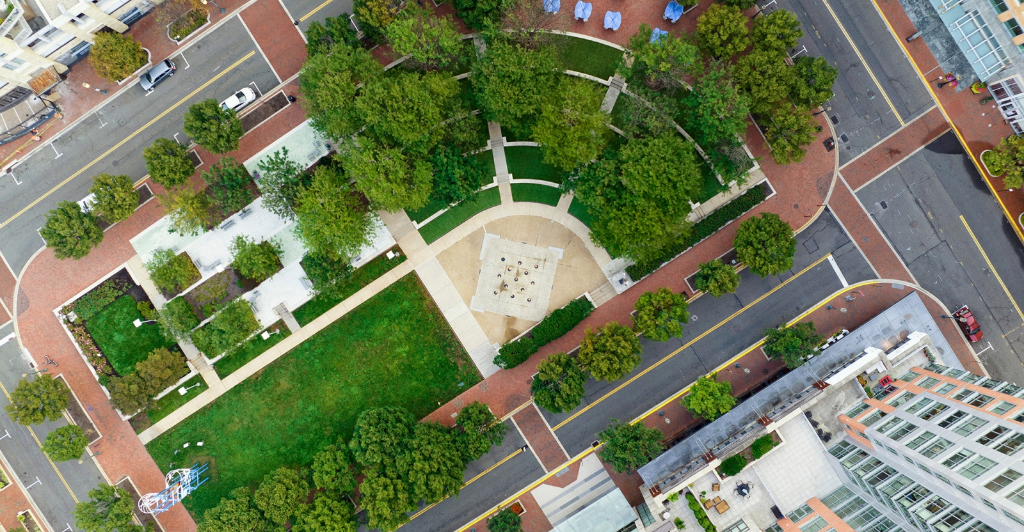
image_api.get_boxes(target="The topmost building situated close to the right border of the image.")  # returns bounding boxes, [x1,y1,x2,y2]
[929,0,1024,98]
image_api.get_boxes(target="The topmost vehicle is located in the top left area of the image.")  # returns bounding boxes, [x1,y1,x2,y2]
[139,59,178,92]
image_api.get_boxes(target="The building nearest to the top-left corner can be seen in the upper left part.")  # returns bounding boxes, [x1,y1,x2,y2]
[0,0,158,147]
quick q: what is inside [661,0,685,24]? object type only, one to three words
umbrella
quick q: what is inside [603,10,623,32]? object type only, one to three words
umbrella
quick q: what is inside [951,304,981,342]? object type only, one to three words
car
